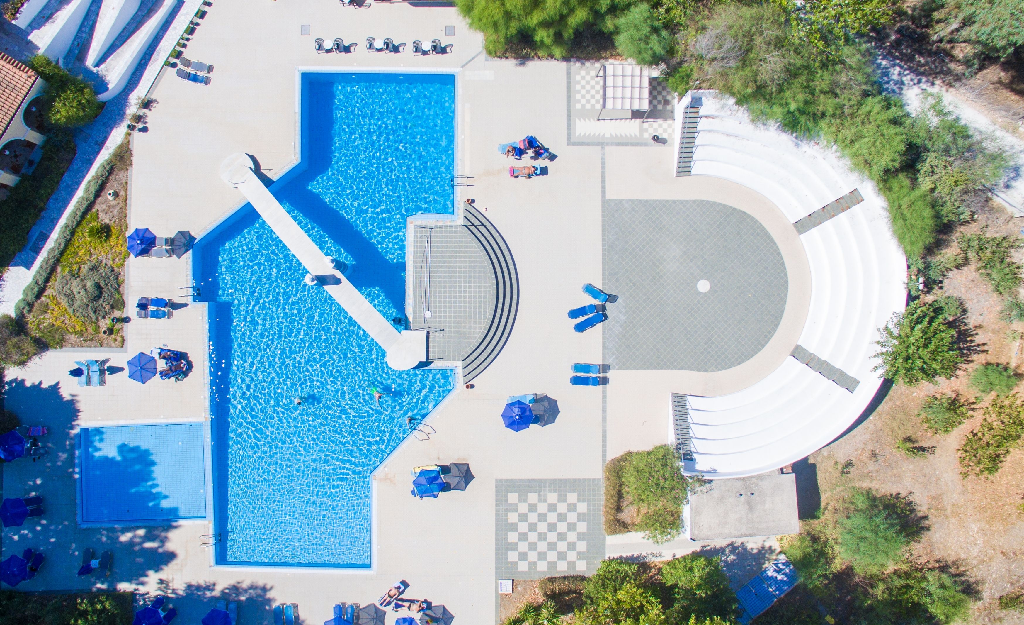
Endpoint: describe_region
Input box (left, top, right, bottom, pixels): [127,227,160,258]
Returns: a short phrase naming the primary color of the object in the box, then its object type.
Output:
blue umbrella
